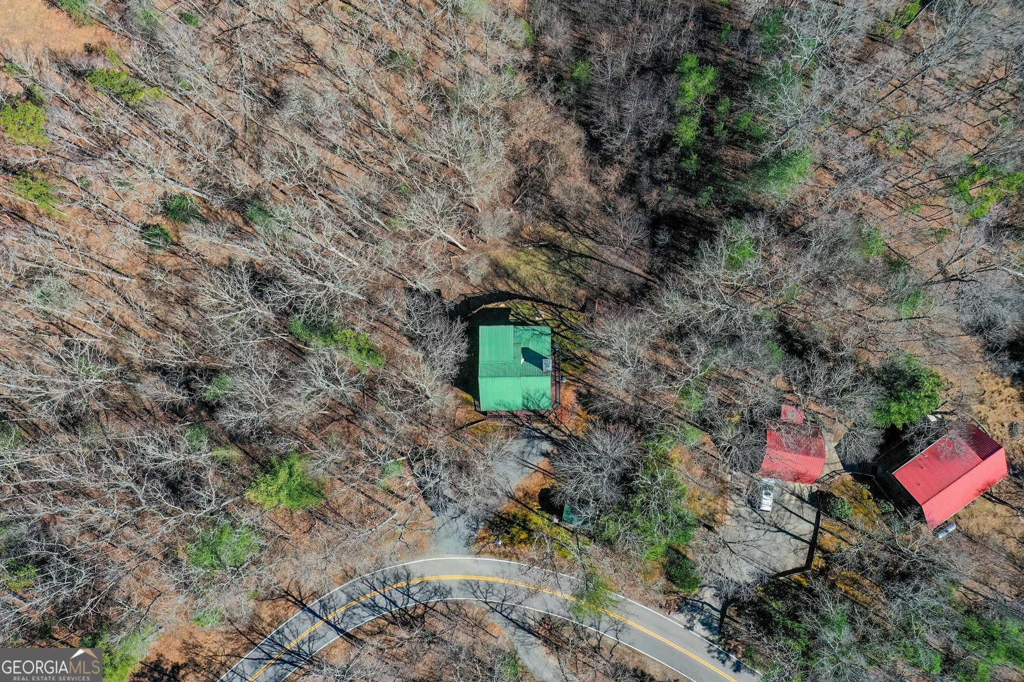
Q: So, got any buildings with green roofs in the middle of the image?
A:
Yes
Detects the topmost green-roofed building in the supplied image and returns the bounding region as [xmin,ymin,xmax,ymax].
[473,325,562,427]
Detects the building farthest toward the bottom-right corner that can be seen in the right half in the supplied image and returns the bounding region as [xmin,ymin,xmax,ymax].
[871,417,1008,533]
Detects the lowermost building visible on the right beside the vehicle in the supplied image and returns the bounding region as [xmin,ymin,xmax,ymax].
[755,420,826,485]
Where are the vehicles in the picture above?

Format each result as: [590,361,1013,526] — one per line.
[759,478,775,513]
